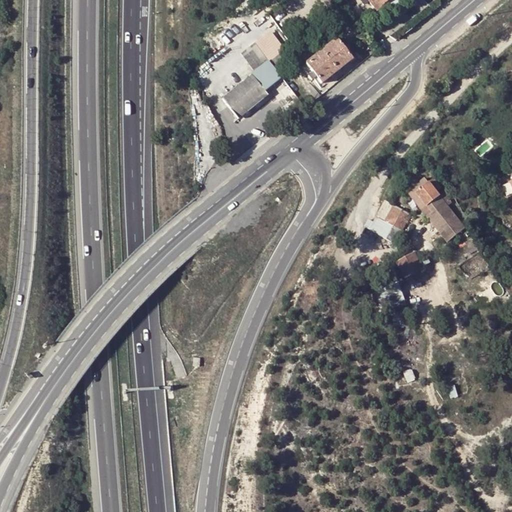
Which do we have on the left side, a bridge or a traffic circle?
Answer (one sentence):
The feature located on the left side is a bridge.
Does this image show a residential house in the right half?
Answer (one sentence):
Yes, a residential house is visible in the right half.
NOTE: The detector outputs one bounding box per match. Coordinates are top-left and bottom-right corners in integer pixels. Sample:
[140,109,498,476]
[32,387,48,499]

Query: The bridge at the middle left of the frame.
[39,218,199,388]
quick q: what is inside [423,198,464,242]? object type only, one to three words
house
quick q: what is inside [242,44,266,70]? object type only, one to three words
shed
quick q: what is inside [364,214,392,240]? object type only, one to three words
building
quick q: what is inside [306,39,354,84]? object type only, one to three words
house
